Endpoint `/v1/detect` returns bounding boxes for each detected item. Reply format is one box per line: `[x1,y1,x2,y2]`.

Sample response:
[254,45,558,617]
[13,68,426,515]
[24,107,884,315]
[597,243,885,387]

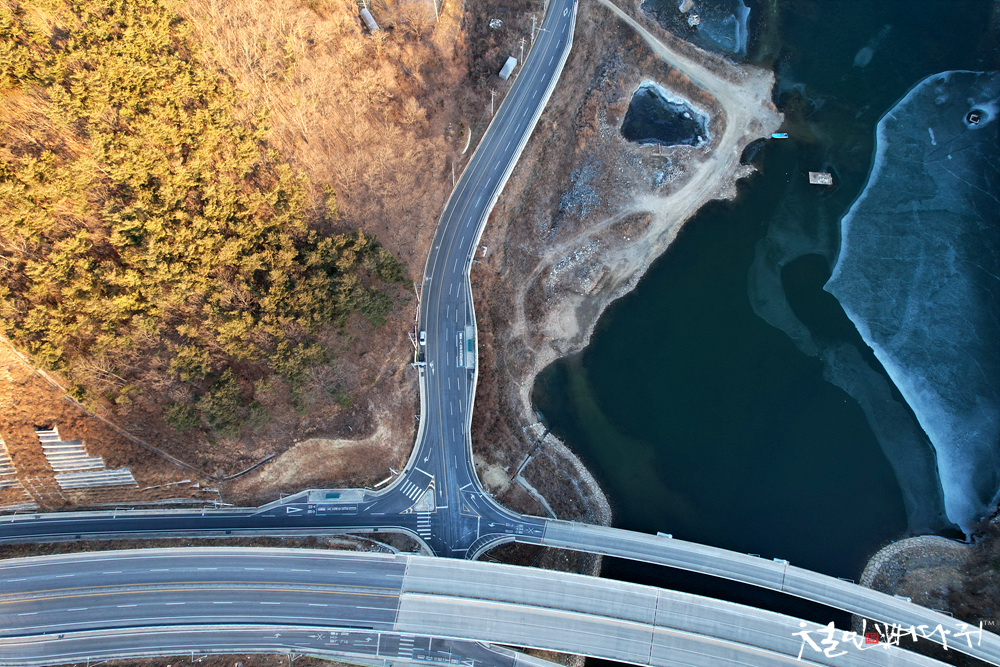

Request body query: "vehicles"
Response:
[419,349,425,362]
[419,332,426,345]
